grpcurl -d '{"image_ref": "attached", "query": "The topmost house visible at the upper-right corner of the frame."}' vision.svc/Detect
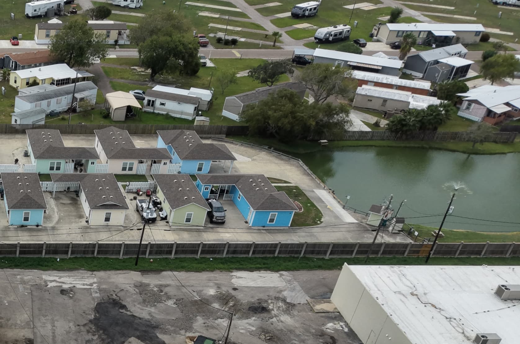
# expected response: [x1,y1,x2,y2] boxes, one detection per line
[376,24,487,44]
